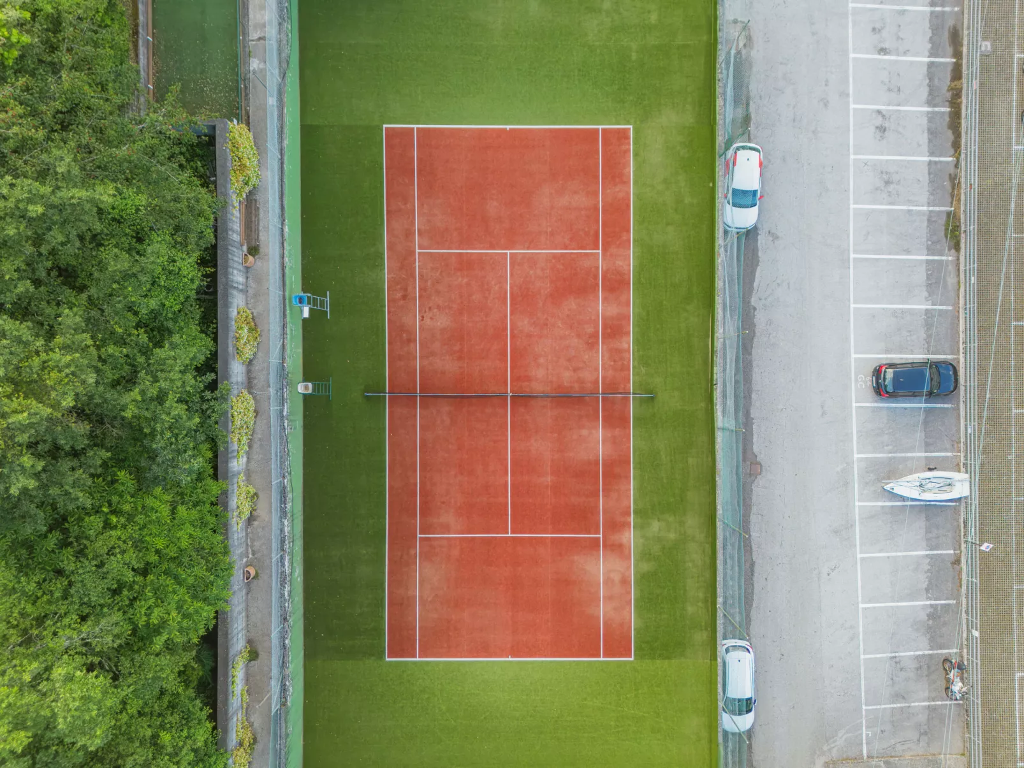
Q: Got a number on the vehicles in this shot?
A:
4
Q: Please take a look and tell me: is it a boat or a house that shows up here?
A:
boat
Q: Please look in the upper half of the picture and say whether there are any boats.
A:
No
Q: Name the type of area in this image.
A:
sports ground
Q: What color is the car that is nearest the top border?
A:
white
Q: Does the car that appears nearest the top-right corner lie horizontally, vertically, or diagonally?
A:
vertically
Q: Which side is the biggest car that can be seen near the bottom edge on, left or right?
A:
right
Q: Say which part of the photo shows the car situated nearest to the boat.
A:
right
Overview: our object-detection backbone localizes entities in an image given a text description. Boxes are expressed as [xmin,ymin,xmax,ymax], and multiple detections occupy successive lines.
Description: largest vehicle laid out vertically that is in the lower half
[725,638,763,731]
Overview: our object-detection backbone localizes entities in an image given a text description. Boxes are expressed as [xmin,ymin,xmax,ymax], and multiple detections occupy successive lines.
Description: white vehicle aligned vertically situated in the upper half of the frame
[725,144,767,232]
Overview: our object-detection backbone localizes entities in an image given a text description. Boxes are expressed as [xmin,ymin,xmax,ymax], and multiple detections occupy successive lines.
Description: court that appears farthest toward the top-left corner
[148,0,247,125]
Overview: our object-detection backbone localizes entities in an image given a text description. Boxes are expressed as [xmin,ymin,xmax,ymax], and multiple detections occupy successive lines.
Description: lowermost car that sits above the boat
[871,356,960,402]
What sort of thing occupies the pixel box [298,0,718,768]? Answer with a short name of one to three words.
tennis court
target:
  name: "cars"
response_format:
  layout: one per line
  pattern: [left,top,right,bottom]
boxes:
[871,356,960,402]
[725,144,767,232]
[725,638,763,731]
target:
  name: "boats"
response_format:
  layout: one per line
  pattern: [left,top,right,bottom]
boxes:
[882,468,971,504]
